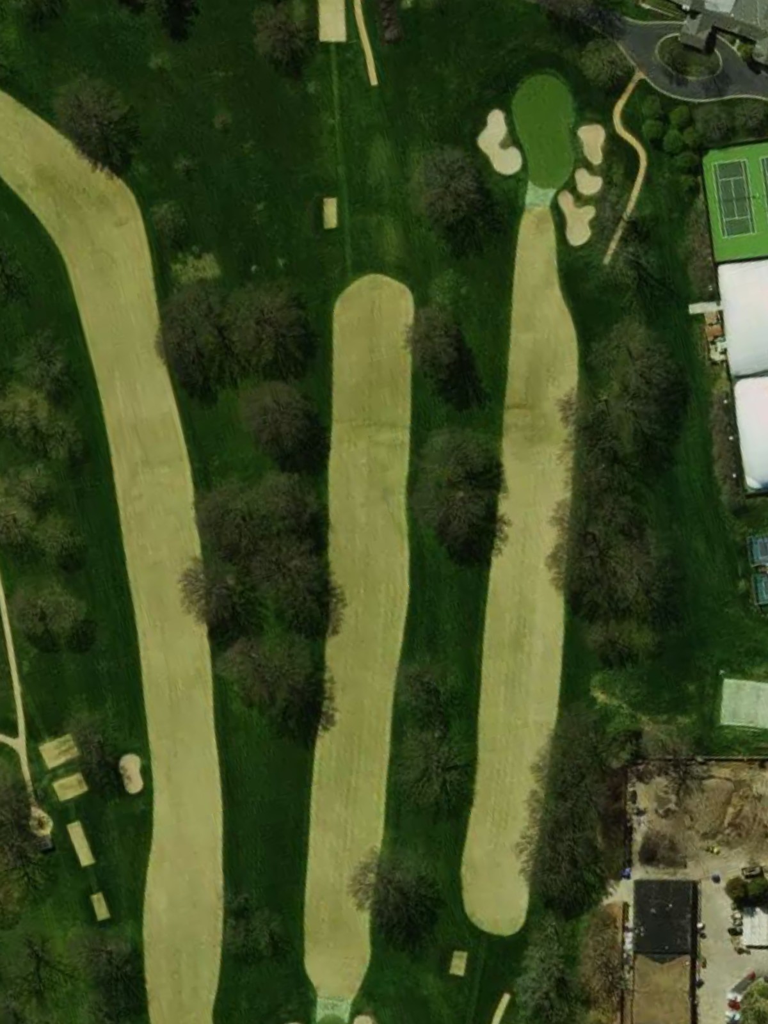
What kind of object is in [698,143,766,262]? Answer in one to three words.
tennis court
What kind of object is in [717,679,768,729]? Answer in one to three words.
sports court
